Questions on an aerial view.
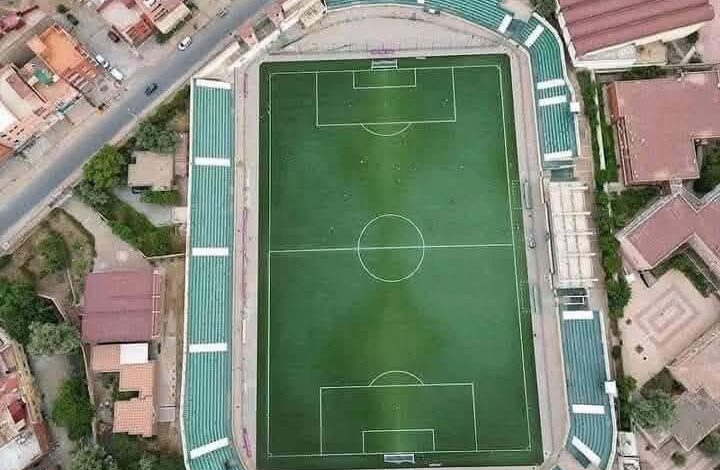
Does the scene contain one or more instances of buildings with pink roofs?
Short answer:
Yes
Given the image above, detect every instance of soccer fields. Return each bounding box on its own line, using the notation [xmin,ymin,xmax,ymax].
[256,54,544,470]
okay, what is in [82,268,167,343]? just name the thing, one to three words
shed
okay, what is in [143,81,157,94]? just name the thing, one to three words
vehicle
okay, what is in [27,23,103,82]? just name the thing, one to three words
house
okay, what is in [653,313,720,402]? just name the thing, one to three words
building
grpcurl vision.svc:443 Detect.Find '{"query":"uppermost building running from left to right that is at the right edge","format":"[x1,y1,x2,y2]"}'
[551,0,716,70]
